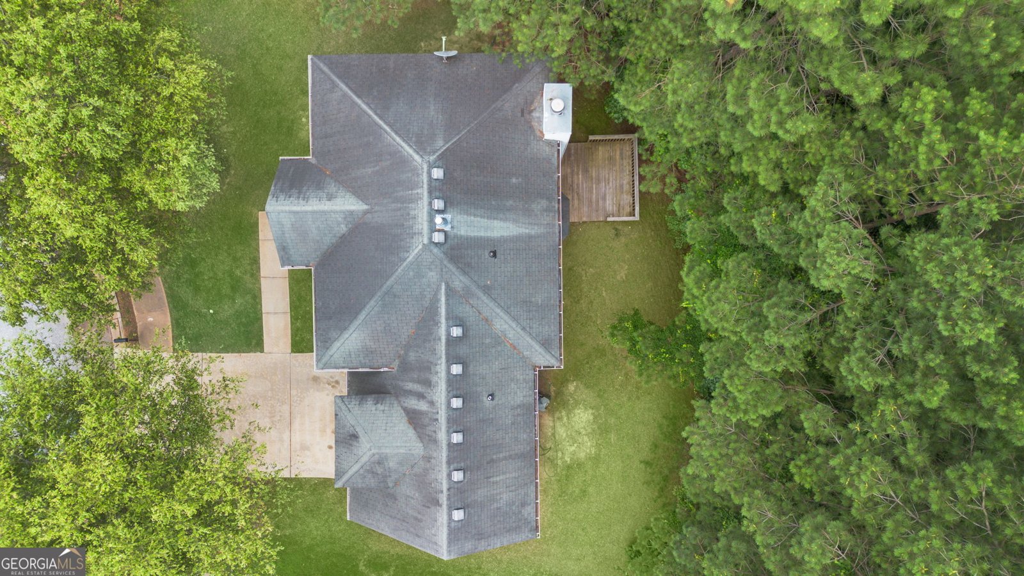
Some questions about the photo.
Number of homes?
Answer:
1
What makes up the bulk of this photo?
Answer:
trees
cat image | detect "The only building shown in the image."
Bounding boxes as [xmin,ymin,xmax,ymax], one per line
[266,51,573,560]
